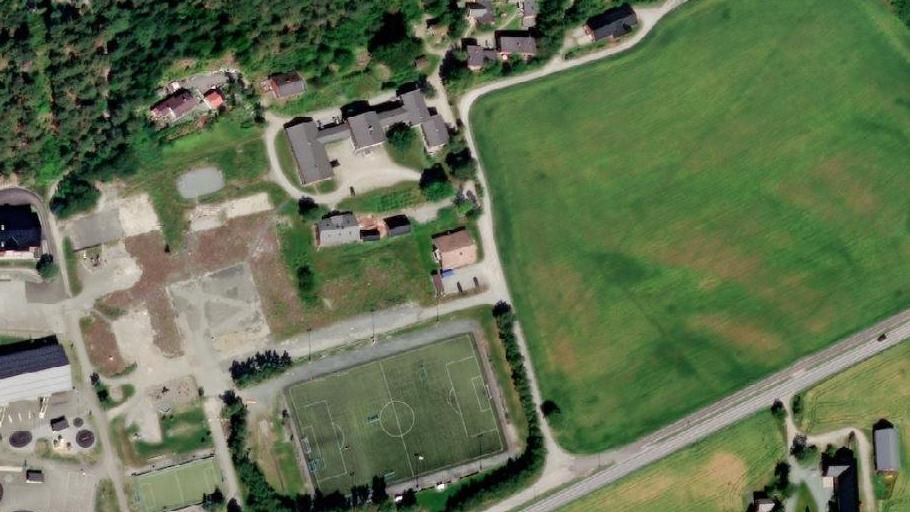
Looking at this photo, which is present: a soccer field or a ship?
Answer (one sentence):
The one in the frame is a soccer field.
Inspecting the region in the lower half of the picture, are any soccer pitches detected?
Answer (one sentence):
Yes, a soccer pitch shows up in the lower half of the picture.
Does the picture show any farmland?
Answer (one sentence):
Yes, some farmland is visible.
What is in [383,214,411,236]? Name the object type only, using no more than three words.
building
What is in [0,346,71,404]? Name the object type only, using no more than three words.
building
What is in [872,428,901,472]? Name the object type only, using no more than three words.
barn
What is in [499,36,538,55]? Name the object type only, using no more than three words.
house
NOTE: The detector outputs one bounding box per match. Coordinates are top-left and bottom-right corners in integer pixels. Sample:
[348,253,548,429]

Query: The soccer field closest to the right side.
[282,327,512,505]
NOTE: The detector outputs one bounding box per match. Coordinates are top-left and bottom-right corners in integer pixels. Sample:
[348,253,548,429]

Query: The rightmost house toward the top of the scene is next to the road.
[584,5,637,43]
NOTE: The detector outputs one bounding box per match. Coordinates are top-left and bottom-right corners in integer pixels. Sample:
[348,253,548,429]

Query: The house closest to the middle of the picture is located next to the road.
[431,228,475,269]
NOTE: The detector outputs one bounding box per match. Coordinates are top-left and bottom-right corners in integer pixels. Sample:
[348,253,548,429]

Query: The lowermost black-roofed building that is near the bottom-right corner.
[824,470,861,512]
